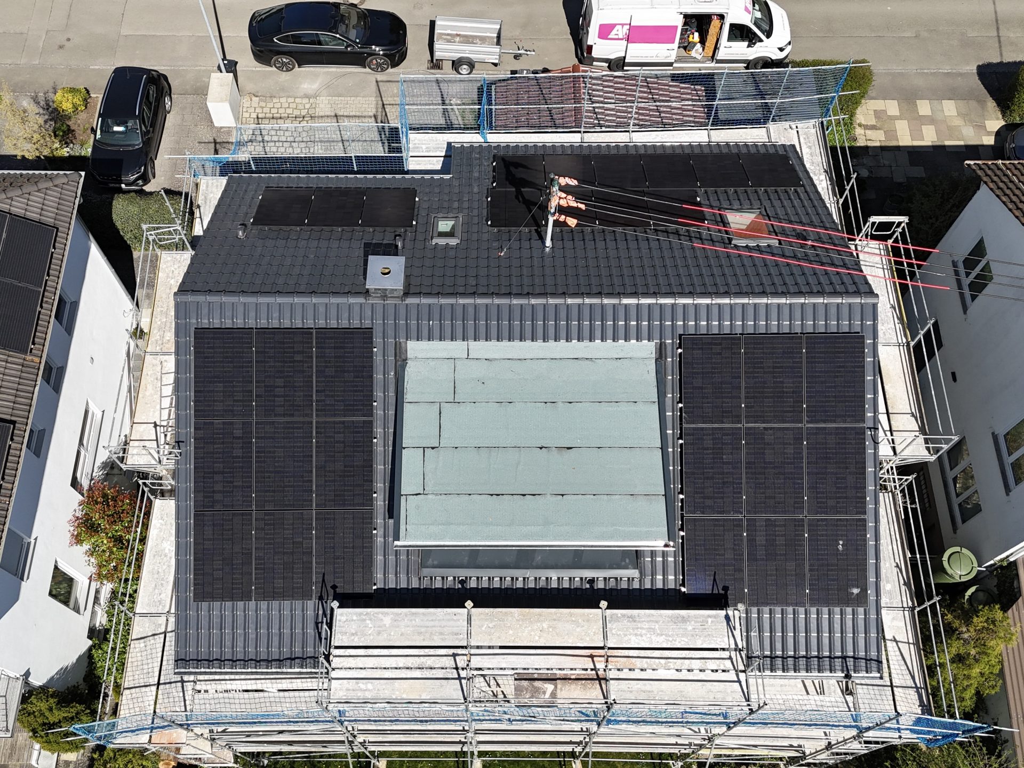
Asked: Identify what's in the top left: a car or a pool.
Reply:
car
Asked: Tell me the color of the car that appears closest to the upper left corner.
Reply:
black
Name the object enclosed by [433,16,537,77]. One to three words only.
trailer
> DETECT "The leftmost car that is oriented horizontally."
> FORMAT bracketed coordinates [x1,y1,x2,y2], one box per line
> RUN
[247,0,410,73]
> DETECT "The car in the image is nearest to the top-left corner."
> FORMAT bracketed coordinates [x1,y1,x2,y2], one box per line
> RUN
[83,58,170,198]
